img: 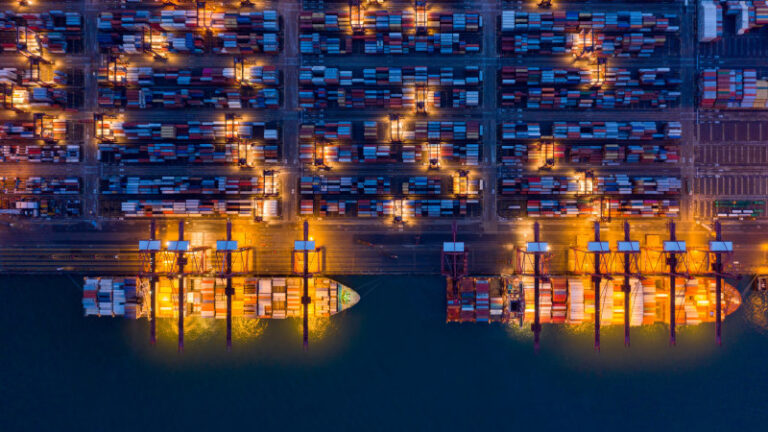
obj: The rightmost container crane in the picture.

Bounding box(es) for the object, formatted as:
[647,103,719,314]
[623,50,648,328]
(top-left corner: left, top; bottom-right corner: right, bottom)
[676,222,743,349]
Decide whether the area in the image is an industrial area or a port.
port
